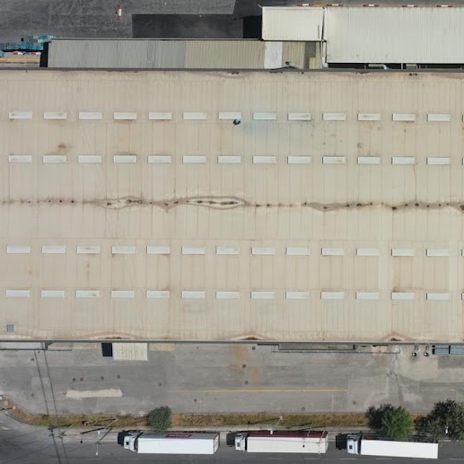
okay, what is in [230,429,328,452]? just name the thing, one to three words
truck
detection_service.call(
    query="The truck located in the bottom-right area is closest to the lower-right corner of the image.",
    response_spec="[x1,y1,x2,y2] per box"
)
[342,431,439,458]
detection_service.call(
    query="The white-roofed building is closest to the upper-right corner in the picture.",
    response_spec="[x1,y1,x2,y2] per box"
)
[323,6,464,65]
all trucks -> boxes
[230,429,328,452]
[124,431,219,455]
[342,431,439,458]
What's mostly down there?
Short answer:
buildings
